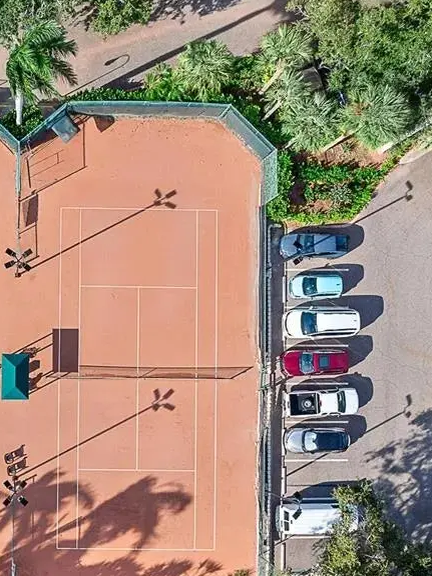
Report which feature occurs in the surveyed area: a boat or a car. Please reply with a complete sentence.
The image shows a car.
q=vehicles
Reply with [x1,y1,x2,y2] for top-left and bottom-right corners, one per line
[278,227,350,260]
[283,425,349,456]
[281,304,358,338]
[279,346,348,378]
[281,385,359,418]
[287,271,344,299]
[276,499,368,537]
